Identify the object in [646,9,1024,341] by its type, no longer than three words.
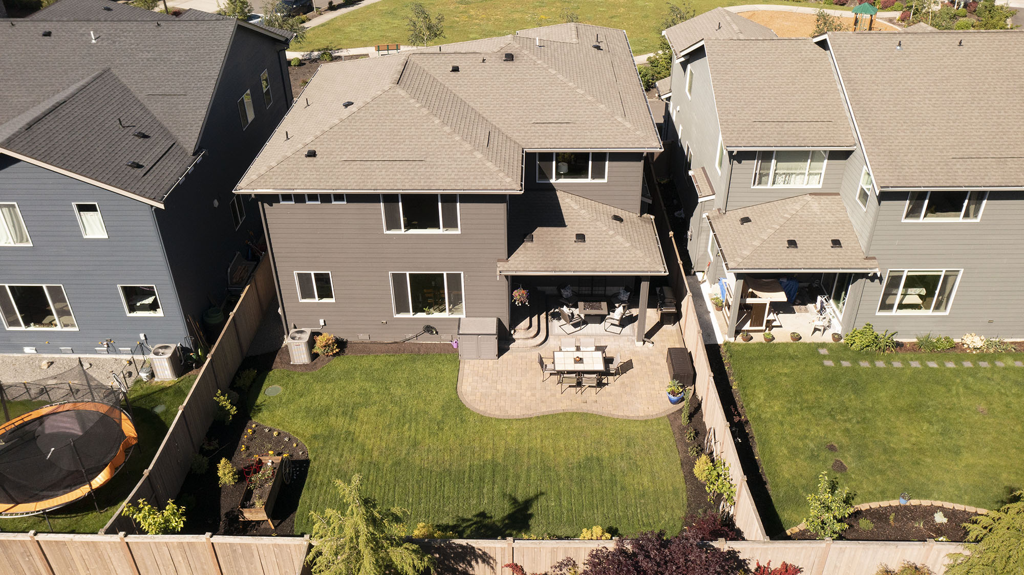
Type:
house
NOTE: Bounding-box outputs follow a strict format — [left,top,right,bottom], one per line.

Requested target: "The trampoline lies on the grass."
[0,354,149,533]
